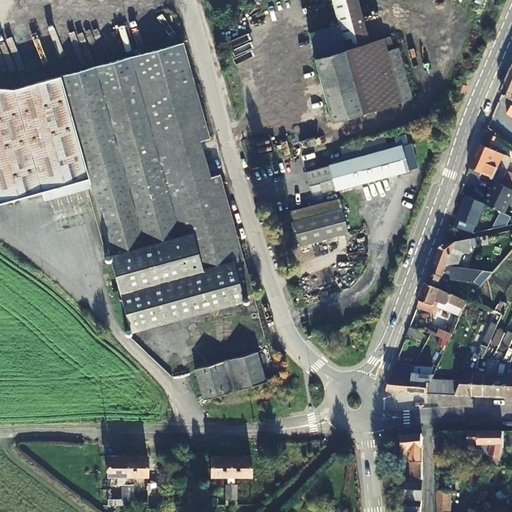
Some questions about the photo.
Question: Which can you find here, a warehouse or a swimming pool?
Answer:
warehouse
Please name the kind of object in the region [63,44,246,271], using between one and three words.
warehouse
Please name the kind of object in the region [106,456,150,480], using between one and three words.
house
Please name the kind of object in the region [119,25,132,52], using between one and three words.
vehicle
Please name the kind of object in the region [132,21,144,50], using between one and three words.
vehicle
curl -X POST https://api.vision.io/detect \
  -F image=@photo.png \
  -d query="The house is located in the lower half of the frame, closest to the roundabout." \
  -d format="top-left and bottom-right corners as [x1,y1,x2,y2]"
[386,378,428,398]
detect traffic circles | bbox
[300,350,398,440]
